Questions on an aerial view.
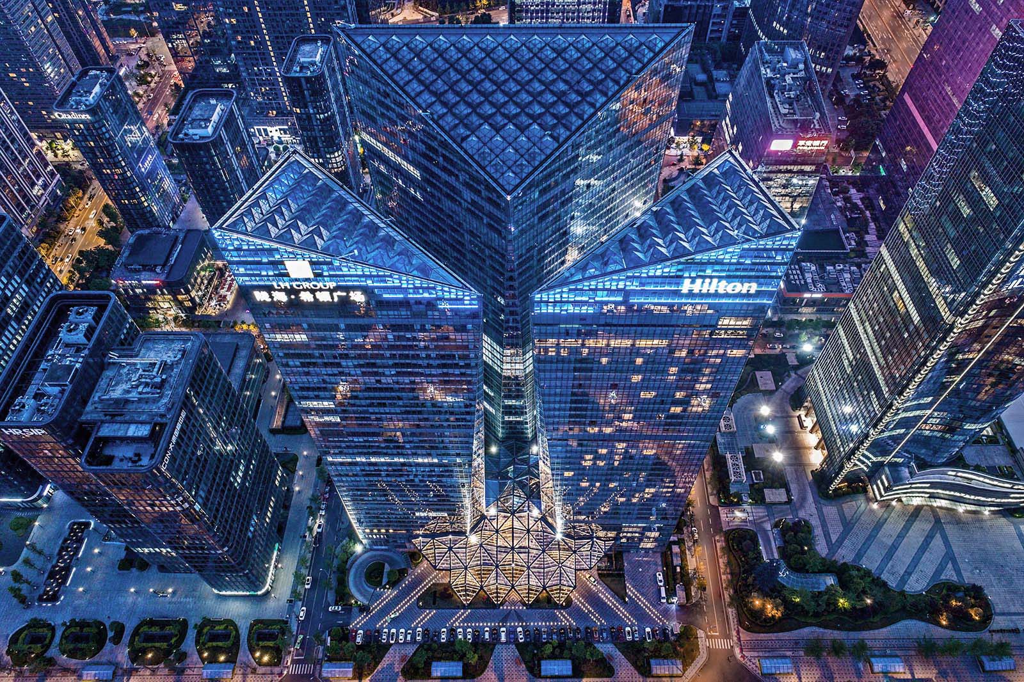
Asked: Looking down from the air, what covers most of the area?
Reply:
buildings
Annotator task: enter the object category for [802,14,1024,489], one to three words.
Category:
building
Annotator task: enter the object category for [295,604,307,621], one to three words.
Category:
vehicle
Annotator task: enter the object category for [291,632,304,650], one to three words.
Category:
vehicle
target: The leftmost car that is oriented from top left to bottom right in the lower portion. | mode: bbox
[585,571,600,586]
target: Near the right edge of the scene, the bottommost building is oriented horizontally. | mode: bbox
[873,466,1024,511]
